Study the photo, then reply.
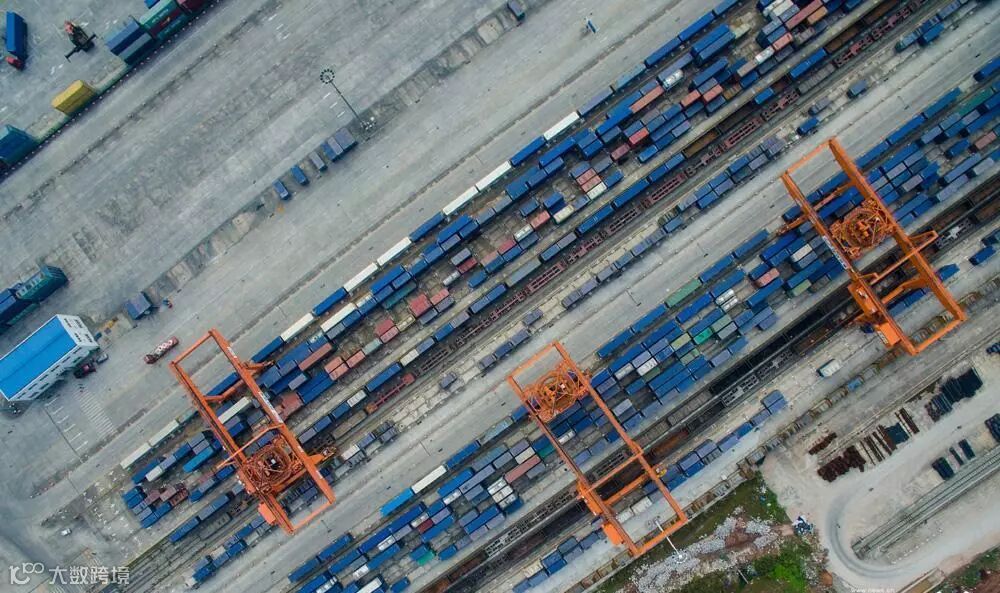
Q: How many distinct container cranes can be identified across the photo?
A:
3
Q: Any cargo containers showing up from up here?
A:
Yes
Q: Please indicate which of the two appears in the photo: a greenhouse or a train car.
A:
train car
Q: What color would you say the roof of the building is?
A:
blue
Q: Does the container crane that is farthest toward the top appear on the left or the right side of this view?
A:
right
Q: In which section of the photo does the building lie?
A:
left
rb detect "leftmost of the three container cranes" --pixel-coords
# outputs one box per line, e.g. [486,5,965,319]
[167,331,341,535]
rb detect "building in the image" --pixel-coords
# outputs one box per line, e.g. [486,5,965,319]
[0,316,97,400]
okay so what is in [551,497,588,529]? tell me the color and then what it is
black rail car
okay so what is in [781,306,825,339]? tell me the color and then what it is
black rail car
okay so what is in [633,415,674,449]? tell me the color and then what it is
gray rail car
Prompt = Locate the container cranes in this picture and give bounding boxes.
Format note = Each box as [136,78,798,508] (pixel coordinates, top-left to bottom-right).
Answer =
[506,342,687,556]
[778,139,967,356]
[167,331,341,535]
